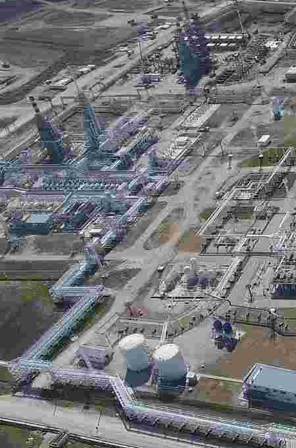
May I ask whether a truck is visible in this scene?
No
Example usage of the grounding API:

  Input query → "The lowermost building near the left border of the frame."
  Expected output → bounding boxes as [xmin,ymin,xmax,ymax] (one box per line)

[7,210,61,234]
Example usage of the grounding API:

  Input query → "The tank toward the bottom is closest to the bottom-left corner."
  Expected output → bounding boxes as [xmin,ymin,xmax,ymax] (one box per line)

[117,331,156,373]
